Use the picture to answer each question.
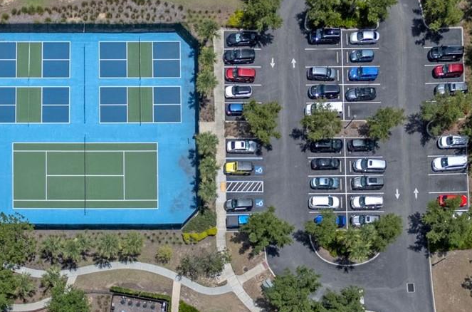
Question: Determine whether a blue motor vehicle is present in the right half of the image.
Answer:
Yes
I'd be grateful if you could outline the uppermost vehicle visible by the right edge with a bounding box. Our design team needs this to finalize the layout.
[427,45,463,61]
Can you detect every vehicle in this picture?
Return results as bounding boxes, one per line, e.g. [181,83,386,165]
[309,176,338,191]
[226,139,255,154]
[352,195,382,209]
[437,135,468,150]
[312,137,342,153]
[347,48,374,64]
[308,84,338,99]
[345,86,374,101]
[309,28,340,43]
[433,155,470,172]
[350,213,378,227]
[348,30,377,46]
[311,157,340,172]
[354,157,384,173]
[432,62,462,79]
[352,175,383,191]
[347,138,376,153]
[224,103,250,118]
[436,80,466,96]
[427,45,463,61]
[225,160,253,175]
[222,213,256,227]
[348,65,380,81]
[309,195,340,209]
[307,65,336,81]
[225,67,255,84]
[225,84,252,99]
[224,48,253,65]
[227,31,256,47]
[224,197,253,212]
